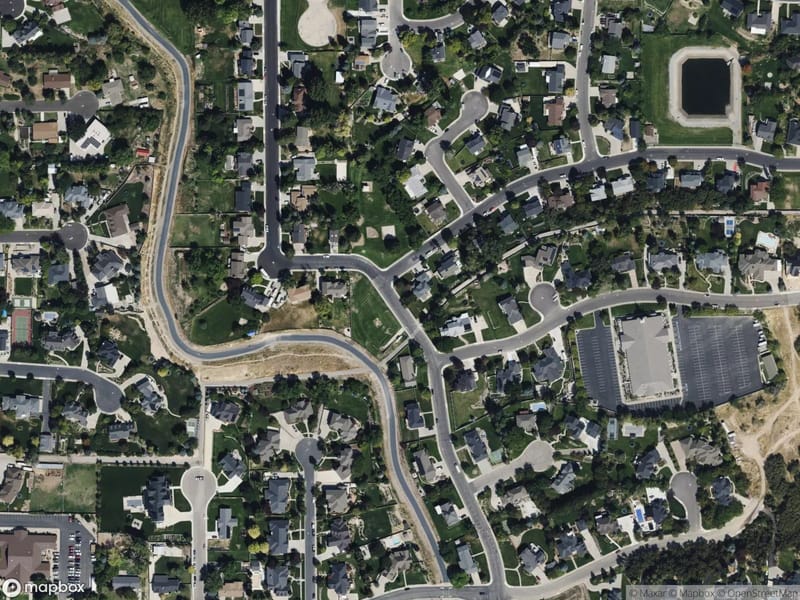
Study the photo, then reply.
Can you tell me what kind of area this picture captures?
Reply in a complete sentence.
This image shows a residential area.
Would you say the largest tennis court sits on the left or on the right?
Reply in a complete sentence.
You can find the largest tennis court on the left side of the picture.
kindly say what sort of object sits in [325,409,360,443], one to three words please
house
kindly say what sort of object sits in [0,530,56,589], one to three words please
building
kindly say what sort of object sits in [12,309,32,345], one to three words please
tennis court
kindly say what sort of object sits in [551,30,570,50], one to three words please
house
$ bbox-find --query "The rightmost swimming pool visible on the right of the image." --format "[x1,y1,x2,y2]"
[757,231,778,253]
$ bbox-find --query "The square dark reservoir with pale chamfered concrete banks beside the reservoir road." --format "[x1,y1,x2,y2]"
[670,46,742,128]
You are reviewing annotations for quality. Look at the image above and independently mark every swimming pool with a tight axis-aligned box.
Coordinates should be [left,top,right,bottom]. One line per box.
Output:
[381,533,411,548]
[635,504,647,530]
[530,402,546,412]
[757,231,778,253]
[123,496,144,512]
[41,312,59,323]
